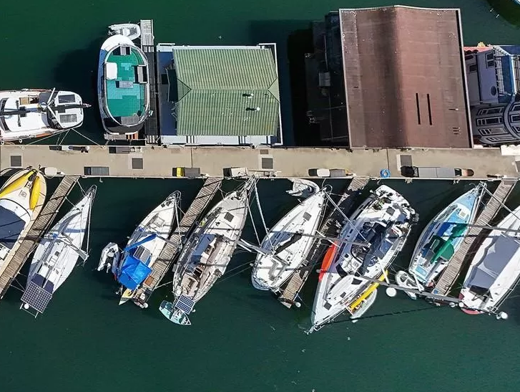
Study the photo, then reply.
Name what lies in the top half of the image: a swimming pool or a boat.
boat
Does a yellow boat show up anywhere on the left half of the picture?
Yes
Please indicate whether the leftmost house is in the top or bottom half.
top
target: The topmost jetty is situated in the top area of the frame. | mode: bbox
[138,19,155,143]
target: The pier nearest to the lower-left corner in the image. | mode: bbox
[0,177,76,304]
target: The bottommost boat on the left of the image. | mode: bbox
[158,300,192,325]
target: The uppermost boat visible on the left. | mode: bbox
[105,20,141,41]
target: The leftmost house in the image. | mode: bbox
[158,44,297,143]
